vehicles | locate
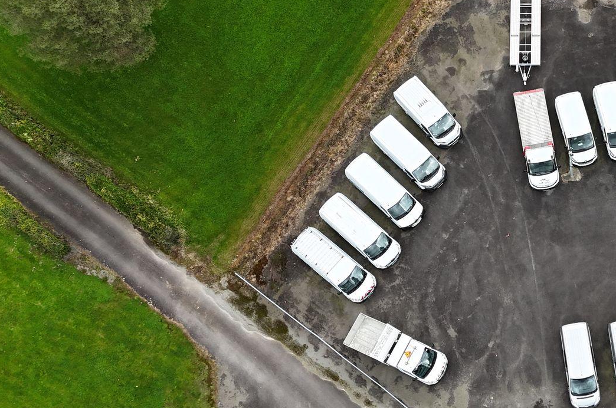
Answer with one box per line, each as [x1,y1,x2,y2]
[512,89,562,190]
[391,75,462,151]
[592,85,616,161]
[321,195,402,271]
[292,229,377,305]
[560,325,603,408]
[344,313,448,386]
[372,118,444,194]
[348,154,425,232]
[554,92,599,169]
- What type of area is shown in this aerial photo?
parking lot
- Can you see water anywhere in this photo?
No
